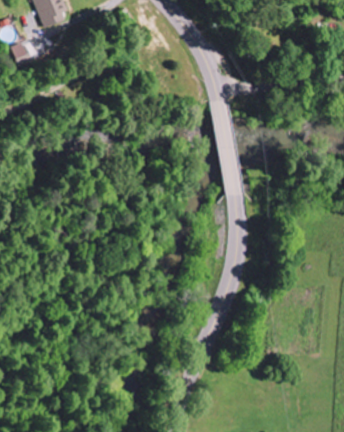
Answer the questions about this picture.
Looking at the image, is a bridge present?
Yes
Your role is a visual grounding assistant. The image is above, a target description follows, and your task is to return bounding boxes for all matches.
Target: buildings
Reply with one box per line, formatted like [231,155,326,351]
[11,40,32,60]
[33,0,56,26]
